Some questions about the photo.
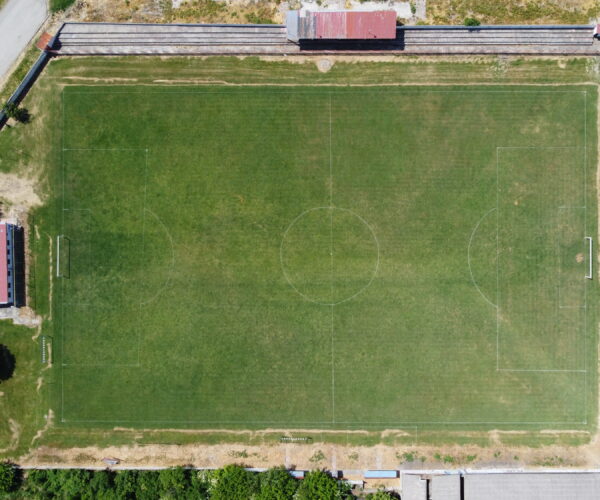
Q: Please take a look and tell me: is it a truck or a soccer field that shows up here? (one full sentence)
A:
Looking from above, you can make out a soccer field.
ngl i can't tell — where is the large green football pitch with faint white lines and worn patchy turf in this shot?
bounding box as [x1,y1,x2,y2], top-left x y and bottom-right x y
[53,87,595,446]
